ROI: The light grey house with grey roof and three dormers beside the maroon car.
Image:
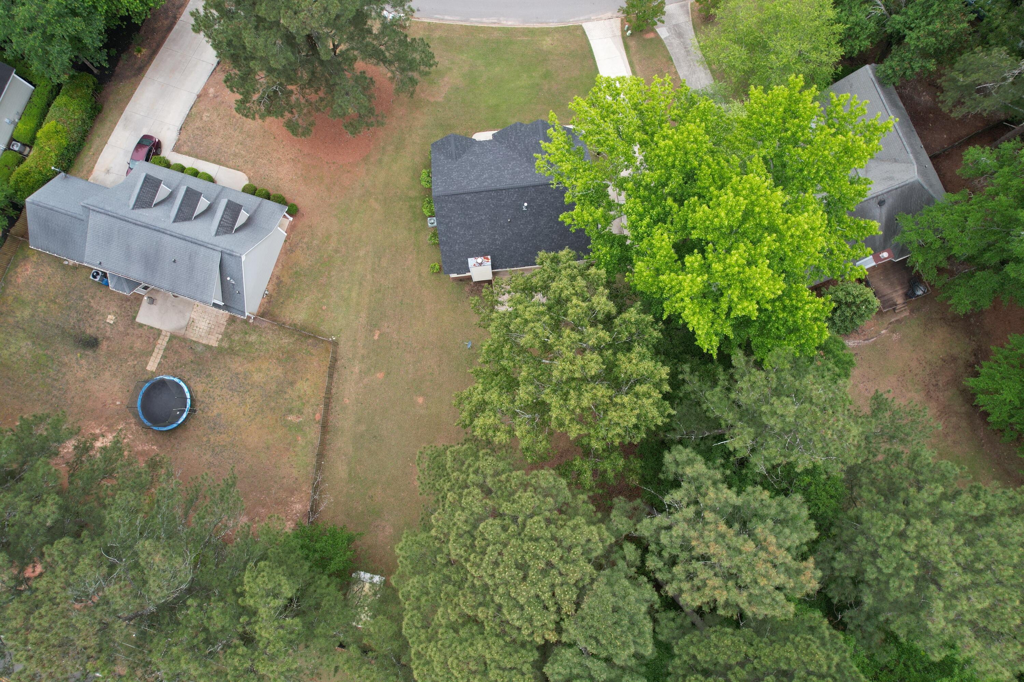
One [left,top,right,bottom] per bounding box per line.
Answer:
[25,160,294,322]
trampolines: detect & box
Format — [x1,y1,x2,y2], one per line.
[126,377,198,432]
